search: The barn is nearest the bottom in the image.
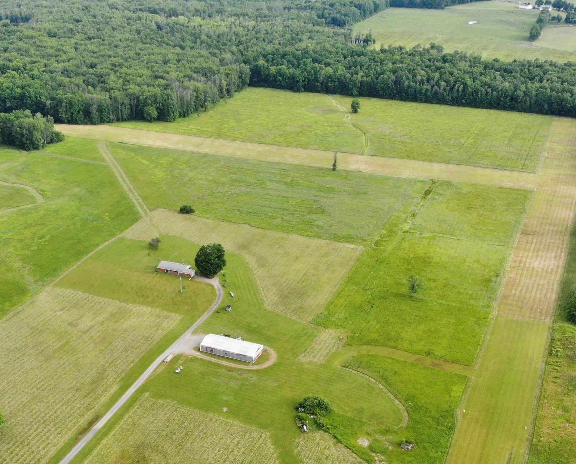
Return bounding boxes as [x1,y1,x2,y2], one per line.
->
[201,333,262,363]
